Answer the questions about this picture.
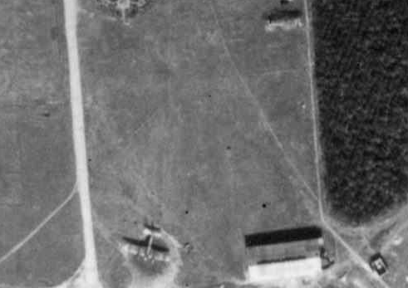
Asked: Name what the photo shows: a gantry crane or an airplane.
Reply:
airplane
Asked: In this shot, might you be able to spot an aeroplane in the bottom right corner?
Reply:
No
